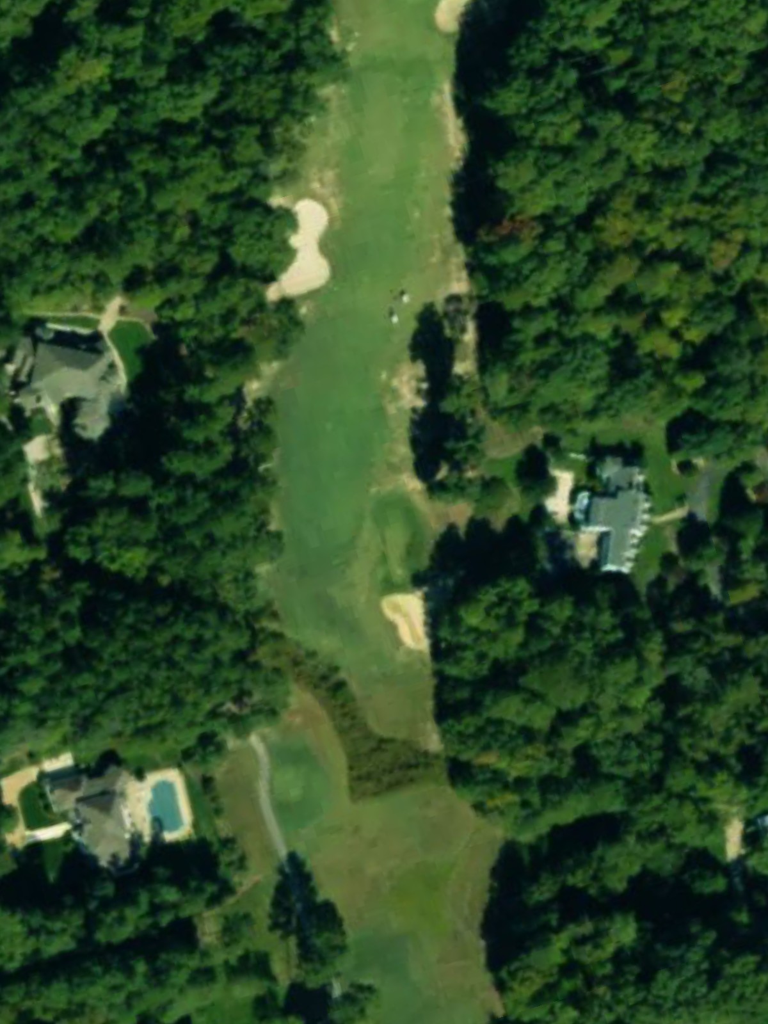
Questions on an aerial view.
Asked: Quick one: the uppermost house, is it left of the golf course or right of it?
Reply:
on its left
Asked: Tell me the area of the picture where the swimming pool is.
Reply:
bottom left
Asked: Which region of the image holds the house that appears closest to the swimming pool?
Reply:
bottom left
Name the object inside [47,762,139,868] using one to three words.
house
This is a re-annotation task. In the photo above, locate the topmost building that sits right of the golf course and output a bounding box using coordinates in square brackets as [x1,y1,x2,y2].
[575,456,649,572]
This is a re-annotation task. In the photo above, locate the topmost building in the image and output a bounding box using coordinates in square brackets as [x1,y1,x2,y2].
[15,341,138,440]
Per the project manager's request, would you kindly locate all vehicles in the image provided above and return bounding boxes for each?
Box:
[401,294,408,302]
[392,314,397,322]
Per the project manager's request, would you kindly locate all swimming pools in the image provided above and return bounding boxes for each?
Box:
[148,778,182,833]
